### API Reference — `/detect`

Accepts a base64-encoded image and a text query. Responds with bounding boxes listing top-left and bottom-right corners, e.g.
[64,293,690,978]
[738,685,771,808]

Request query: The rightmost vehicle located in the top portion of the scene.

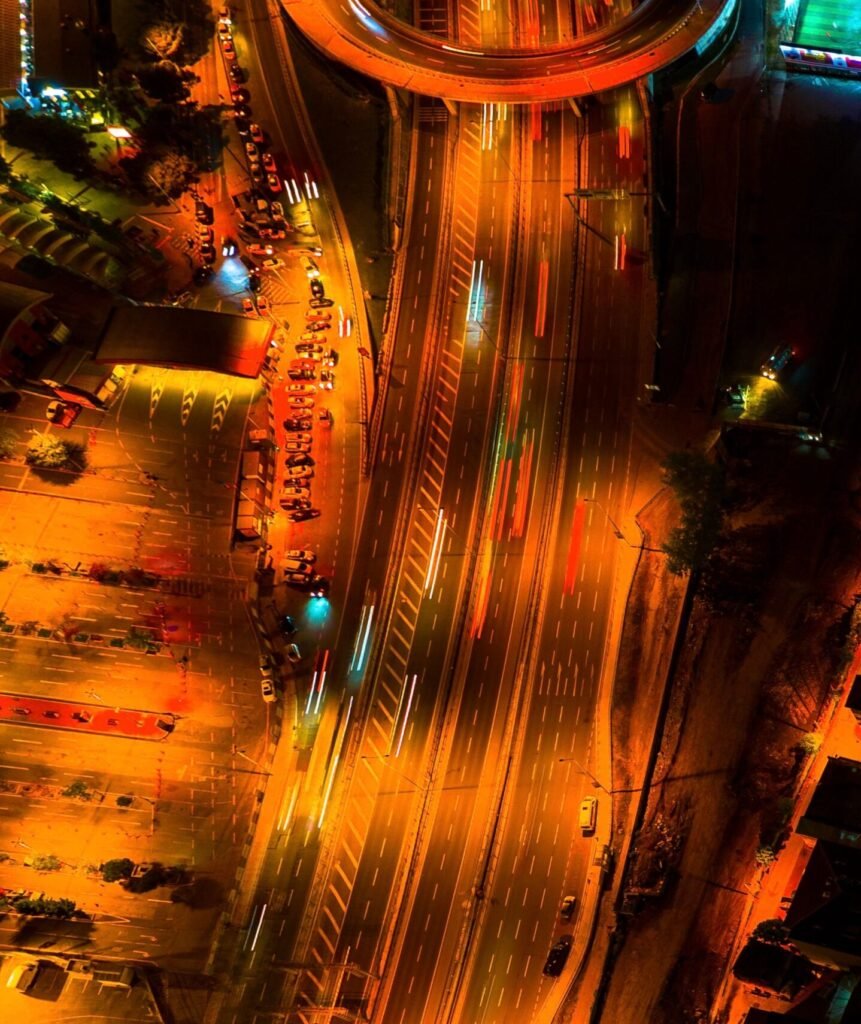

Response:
[765,346,787,373]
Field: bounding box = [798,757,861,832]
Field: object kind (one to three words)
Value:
house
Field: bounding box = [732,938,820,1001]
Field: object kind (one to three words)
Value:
house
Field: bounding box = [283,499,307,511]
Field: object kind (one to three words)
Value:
vehicle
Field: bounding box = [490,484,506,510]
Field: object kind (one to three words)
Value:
vehicle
